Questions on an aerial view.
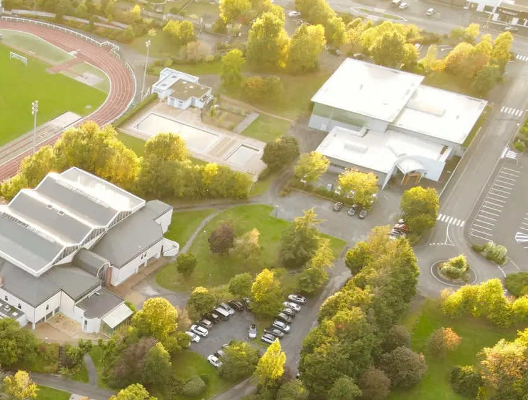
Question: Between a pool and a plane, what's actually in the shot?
pool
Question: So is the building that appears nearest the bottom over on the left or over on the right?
left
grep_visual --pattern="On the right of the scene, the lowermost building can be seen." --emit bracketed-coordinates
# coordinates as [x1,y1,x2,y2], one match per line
[300,59,487,189]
